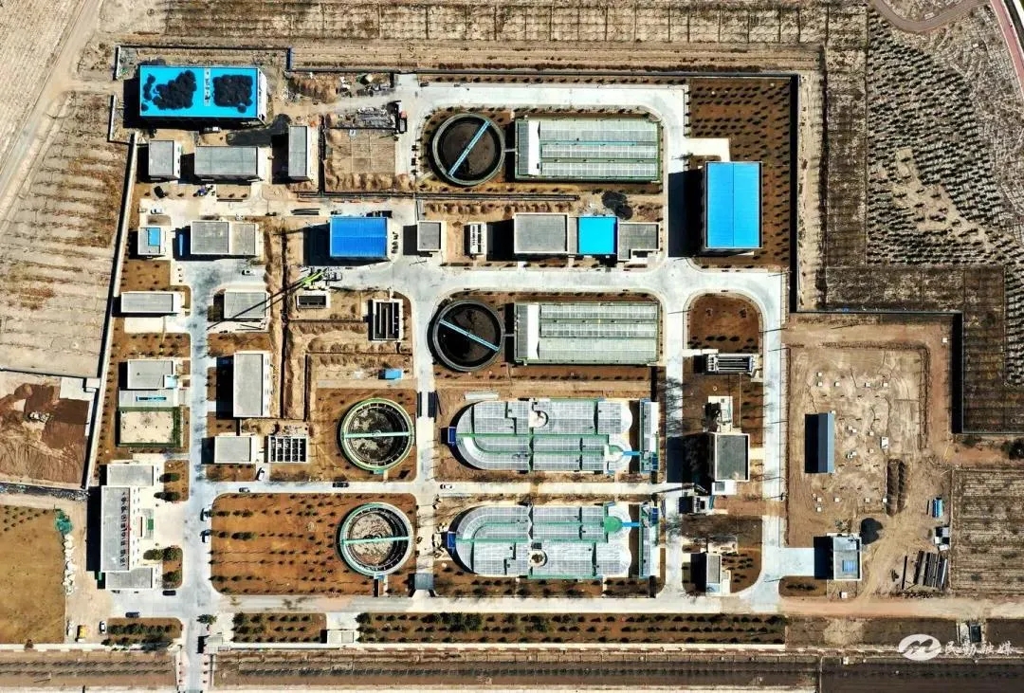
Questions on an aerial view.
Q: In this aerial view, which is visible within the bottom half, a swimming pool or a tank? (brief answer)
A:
tank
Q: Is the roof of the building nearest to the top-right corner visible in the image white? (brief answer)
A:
No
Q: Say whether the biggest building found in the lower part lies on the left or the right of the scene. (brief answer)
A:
left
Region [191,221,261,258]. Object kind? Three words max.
building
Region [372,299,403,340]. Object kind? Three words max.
storage tank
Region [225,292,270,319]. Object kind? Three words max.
house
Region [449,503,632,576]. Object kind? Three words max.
storage tank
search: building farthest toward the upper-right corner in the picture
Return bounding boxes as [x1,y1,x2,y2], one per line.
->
[700,161,762,251]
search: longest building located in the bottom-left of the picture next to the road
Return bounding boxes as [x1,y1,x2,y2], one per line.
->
[101,463,161,589]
